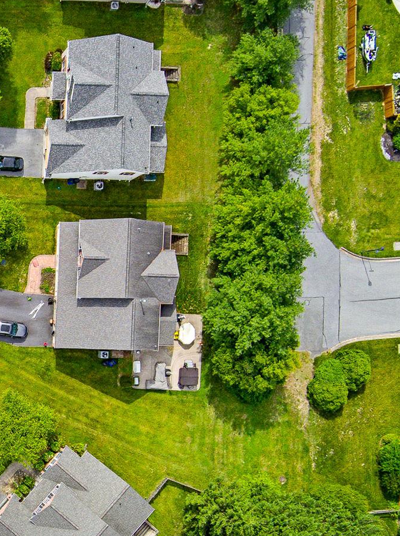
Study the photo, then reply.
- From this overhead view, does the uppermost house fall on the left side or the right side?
left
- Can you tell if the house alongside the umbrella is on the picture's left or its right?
left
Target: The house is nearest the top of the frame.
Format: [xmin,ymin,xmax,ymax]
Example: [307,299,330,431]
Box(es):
[42,32,172,185]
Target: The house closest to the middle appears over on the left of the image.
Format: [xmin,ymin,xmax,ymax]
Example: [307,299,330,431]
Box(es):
[52,217,184,353]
